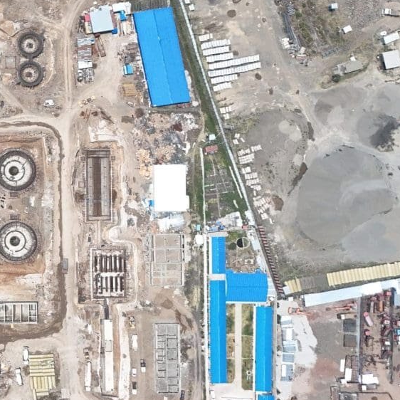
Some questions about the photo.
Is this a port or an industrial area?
industrial area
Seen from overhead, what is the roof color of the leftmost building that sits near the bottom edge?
blue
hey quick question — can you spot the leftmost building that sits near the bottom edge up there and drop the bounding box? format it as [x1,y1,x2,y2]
[206,280,226,383]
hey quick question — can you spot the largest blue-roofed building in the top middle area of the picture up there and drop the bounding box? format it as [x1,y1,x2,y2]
[129,8,190,108]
